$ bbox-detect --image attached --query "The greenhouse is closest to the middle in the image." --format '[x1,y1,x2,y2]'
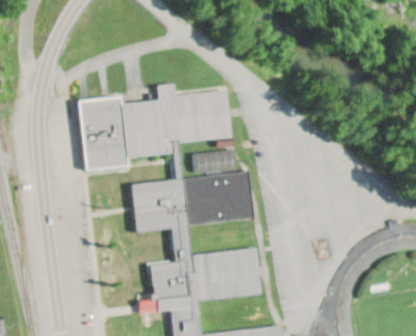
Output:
[192,150,238,173]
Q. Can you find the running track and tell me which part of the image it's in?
bottom right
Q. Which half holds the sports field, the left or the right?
right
